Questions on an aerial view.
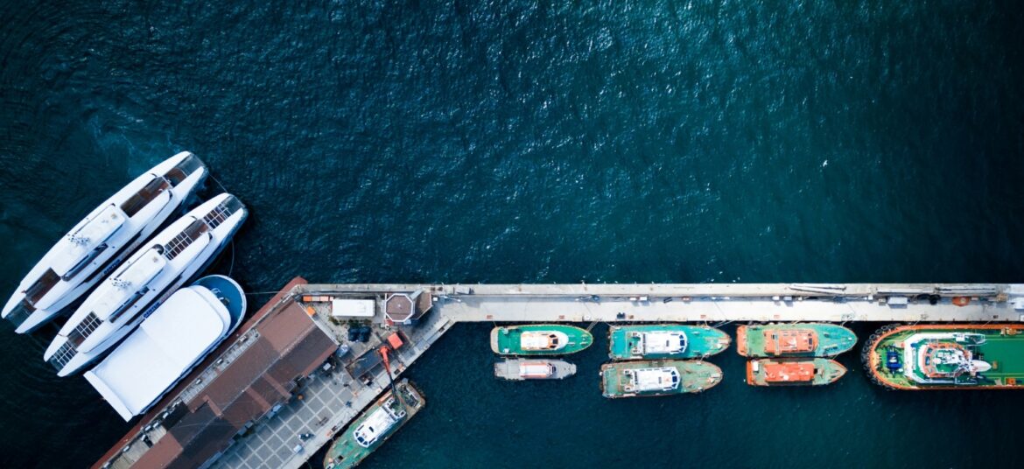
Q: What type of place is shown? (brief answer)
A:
port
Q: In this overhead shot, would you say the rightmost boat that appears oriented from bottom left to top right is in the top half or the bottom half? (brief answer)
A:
bottom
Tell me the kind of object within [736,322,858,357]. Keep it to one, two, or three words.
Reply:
boat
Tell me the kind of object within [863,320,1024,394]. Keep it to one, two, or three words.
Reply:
boat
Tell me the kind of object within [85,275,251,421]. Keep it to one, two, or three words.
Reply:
ship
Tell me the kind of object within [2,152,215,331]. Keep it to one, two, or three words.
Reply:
ship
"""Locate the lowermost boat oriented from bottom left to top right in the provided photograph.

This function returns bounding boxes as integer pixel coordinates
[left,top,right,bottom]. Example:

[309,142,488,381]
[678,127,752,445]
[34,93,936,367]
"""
[323,380,425,469]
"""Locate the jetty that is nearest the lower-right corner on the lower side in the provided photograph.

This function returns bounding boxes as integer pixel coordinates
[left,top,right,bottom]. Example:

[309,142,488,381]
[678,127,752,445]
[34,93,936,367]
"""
[305,281,1024,323]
